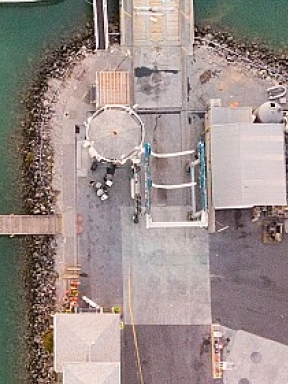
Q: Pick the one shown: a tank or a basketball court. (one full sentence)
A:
This aerial view contains a tank.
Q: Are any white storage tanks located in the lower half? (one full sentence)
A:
No, the scene shows no white storage tank in the lower half.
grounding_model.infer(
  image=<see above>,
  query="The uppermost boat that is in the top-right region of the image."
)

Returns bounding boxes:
[268,86,286,98]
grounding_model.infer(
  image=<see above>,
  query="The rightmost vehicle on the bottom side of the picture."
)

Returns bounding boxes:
[259,219,284,244]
